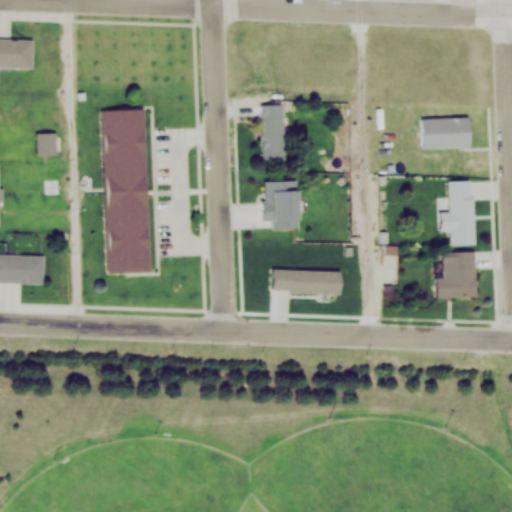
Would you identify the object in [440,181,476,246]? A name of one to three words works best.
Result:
house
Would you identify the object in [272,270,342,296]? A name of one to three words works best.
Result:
house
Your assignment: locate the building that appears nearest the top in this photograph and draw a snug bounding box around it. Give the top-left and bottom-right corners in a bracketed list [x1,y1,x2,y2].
[0,39,34,69]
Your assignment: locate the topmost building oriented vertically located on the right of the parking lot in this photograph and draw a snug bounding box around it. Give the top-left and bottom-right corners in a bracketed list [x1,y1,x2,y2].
[260,105,286,159]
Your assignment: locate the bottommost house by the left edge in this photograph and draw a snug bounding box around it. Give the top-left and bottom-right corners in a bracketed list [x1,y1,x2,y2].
[0,256,45,286]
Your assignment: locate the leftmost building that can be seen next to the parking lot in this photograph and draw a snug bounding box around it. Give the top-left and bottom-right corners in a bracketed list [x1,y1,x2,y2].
[101,110,152,274]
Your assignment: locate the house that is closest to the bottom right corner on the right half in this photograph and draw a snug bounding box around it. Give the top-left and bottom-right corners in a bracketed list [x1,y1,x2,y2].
[432,251,478,300]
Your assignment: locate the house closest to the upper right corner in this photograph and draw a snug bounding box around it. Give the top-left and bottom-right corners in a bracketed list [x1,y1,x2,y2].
[420,118,472,150]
